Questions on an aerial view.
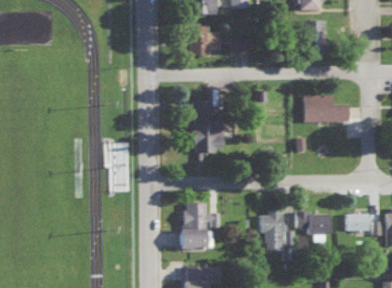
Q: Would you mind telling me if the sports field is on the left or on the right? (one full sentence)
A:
The sports field appears in the left half of the scene.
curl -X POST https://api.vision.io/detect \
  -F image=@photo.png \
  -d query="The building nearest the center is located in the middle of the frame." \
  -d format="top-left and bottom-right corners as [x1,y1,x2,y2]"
[192,127,226,161]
